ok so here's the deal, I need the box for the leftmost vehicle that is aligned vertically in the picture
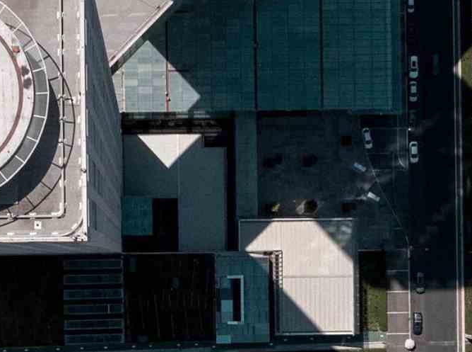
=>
[362,126,374,149]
